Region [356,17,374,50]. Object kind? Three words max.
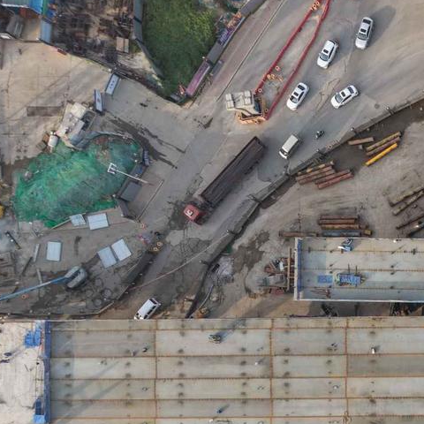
car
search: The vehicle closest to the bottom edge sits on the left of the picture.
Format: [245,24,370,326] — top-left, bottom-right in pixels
[135,294,162,319]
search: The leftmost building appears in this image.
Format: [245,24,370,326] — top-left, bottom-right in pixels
[0,11,28,41]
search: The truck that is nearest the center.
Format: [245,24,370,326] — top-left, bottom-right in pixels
[189,134,269,216]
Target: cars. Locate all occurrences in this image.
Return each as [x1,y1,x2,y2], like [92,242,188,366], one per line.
[277,130,303,161]
[285,80,310,112]
[356,17,374,50]
[317,36,339,70]
[330,83,360,109]
[135,294,162,319]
